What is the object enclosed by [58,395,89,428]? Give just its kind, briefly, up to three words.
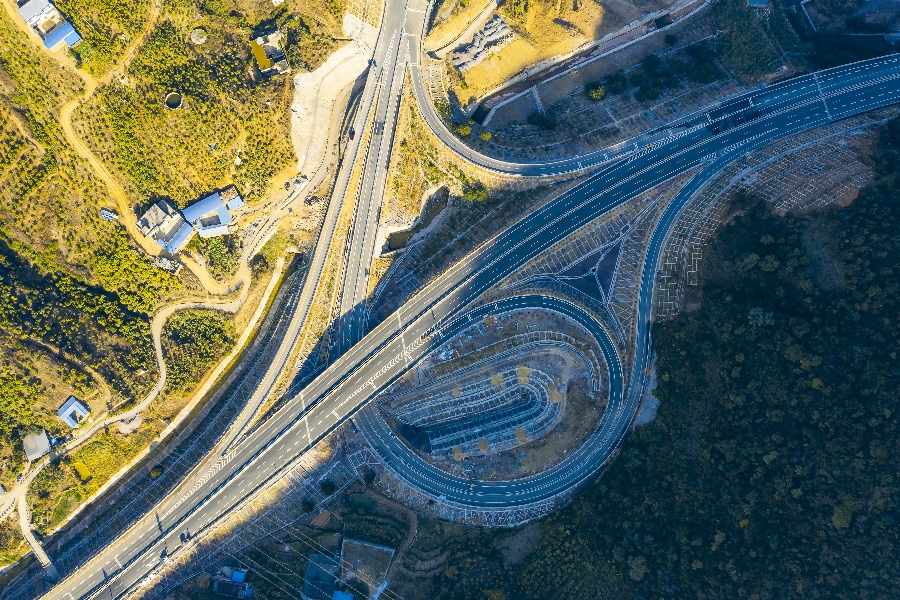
house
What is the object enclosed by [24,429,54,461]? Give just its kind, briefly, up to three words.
house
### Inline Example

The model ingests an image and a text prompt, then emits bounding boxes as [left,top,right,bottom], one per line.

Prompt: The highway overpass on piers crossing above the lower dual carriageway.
[296,318,442,436]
